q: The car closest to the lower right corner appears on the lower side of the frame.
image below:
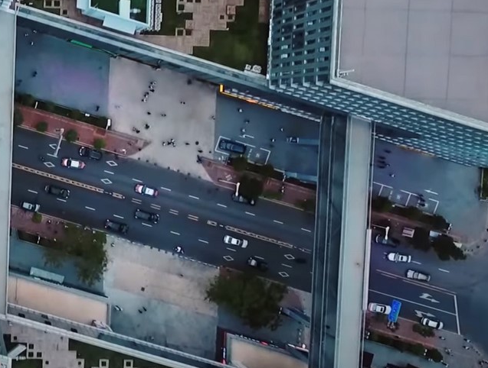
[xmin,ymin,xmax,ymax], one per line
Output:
[417,315,443,330]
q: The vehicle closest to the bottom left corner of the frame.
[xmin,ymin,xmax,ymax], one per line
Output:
[19,200,41,213]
